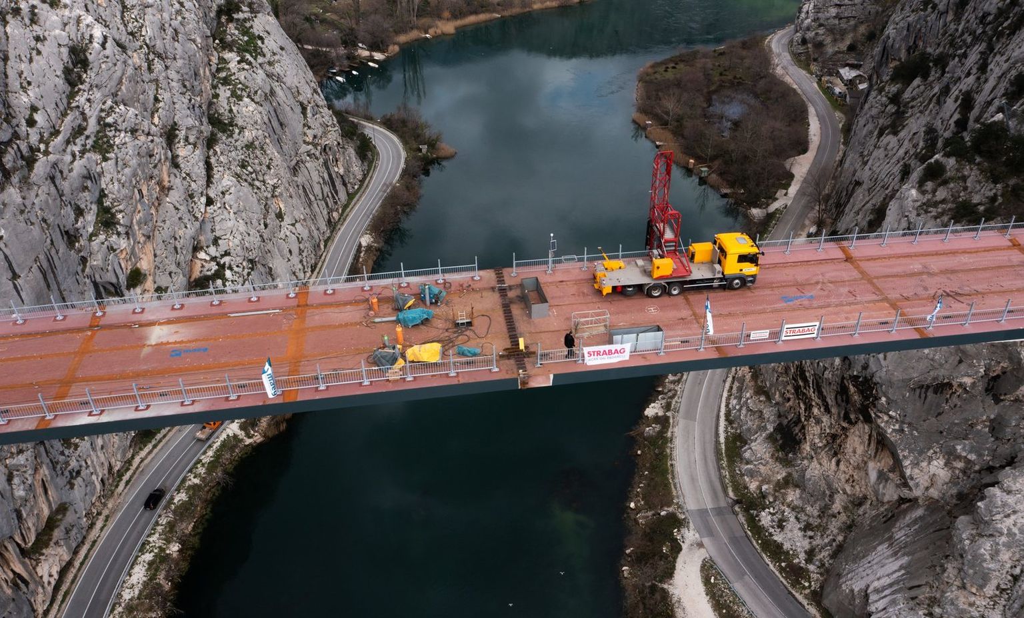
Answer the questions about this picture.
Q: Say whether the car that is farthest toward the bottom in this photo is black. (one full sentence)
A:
Yes, the car that is farthest toward the bottom is indeed black.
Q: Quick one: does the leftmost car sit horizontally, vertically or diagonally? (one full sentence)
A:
From this overhead view, the leftmost car appears to run diagonally.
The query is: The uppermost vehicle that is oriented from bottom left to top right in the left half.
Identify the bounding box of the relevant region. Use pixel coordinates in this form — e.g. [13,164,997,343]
[192,425,216,442]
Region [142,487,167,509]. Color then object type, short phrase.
black car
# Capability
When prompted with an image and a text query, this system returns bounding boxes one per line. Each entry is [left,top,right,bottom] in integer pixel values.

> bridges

[0,229,1024,450]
